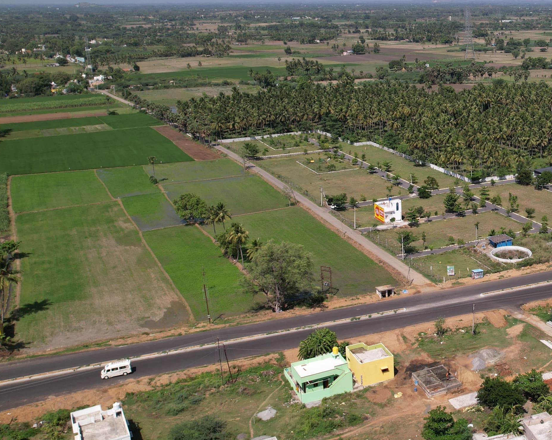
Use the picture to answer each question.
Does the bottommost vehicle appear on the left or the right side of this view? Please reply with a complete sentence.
It is on the left.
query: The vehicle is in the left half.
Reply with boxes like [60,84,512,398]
[98,357,132,379]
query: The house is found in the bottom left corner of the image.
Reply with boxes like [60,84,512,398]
[64,398,133,440]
